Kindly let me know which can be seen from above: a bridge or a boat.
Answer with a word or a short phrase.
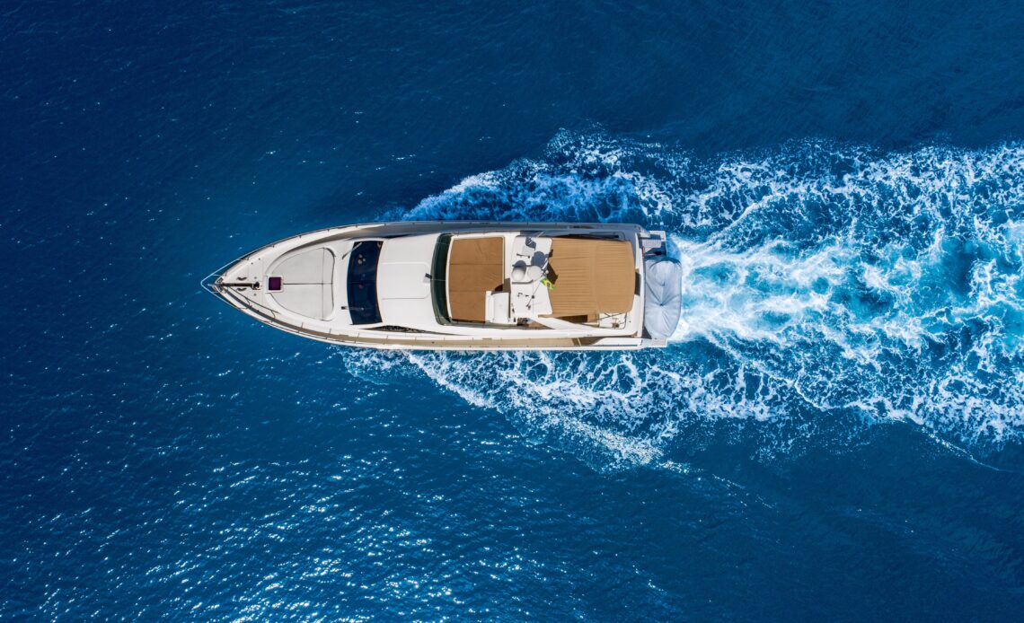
boat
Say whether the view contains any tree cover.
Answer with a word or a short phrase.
No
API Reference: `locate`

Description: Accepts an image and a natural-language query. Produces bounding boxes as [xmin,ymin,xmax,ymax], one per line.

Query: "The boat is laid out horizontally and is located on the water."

[201,220,667,350]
